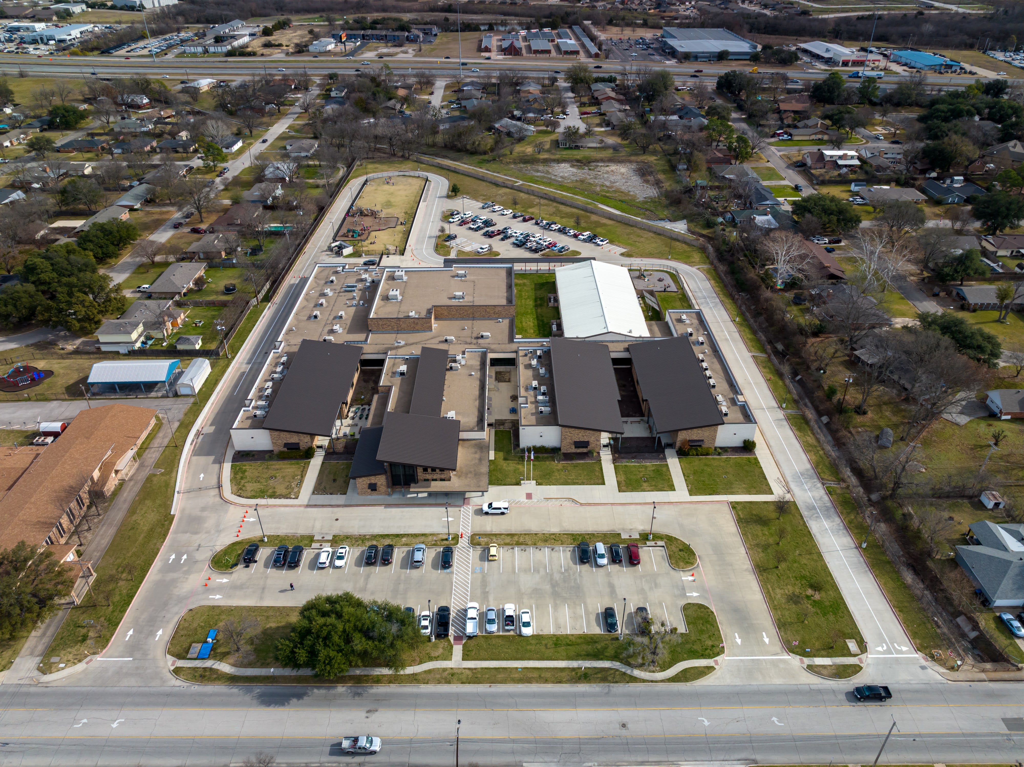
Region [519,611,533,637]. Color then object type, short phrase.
white car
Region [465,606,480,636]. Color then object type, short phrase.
white vehicle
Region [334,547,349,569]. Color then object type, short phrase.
white car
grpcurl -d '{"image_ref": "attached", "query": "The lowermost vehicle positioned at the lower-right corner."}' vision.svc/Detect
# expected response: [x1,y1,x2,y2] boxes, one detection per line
[852,685,895,703]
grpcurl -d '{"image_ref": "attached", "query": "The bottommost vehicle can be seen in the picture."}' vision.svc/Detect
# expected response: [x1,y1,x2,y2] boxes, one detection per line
[340,736,382,755]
